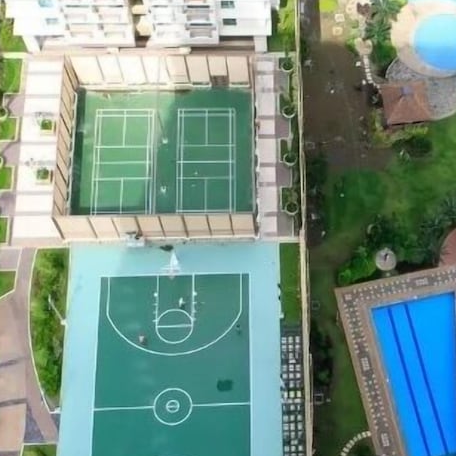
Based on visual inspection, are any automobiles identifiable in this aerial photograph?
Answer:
No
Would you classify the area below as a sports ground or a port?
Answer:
sports ground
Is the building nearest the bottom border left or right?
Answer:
right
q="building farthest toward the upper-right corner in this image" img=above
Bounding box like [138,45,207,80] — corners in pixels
[381,78,435,132]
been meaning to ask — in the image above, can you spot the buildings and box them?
[381,78,435,132]
[0,0,274,51]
